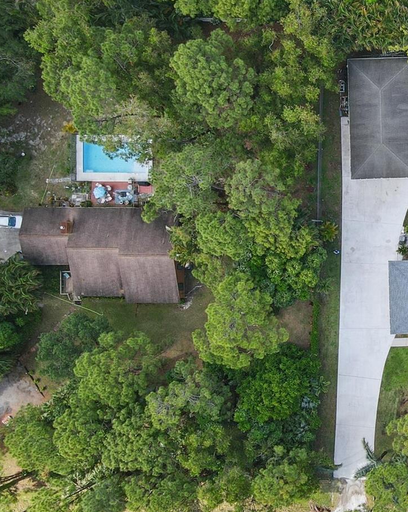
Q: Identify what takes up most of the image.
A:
trees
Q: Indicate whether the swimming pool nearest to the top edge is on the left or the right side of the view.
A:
left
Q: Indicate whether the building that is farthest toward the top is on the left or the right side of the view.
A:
right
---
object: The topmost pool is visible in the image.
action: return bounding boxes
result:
[81,140,150,174]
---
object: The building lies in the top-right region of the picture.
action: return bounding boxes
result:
[347,57,408,180]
